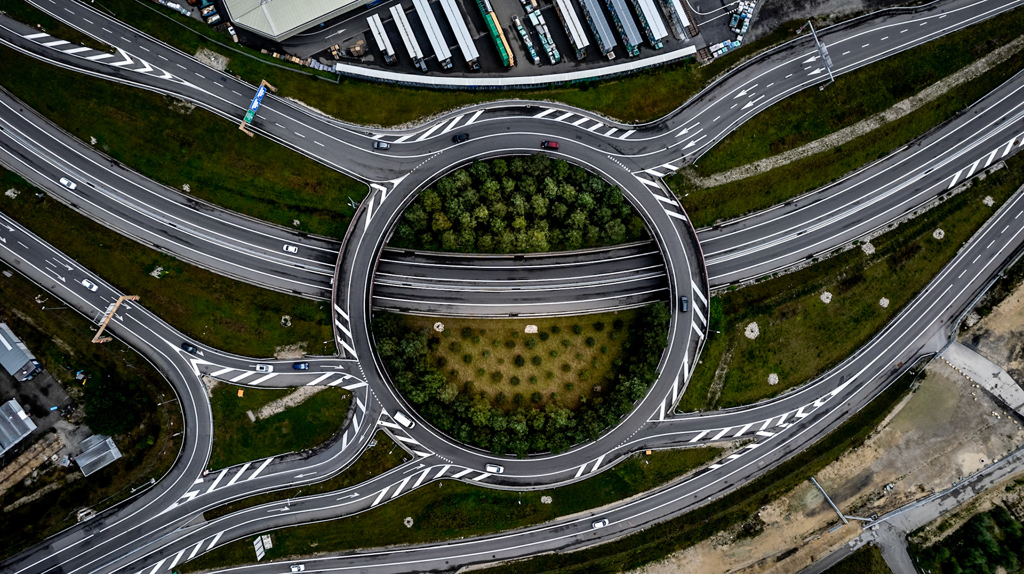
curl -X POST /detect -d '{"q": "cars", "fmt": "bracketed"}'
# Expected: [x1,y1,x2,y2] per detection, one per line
[179,343,196,354]
[541,139,559,148]
[57,176,75,189]
[451,131,470,142]
[681,296,689,312]
[281,244,299,253]
[373,140,389,149]
[592,519,610,531]
[289,565,305,574]
[255,364,273,373]
[485,465,504,475]
[327,278,332,285]
[79,277,97,292]
[292,363,308,371]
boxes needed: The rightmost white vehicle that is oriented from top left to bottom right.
[393,412,413,429]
